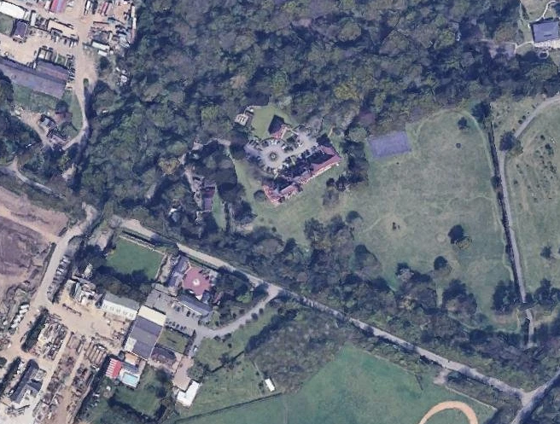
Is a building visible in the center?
Yes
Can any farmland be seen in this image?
Yes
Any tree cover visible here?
Yes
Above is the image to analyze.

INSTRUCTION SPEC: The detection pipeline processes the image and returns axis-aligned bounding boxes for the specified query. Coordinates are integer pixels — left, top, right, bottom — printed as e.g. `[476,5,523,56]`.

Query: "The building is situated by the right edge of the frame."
[531,21,560,43]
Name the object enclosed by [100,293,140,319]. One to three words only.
building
